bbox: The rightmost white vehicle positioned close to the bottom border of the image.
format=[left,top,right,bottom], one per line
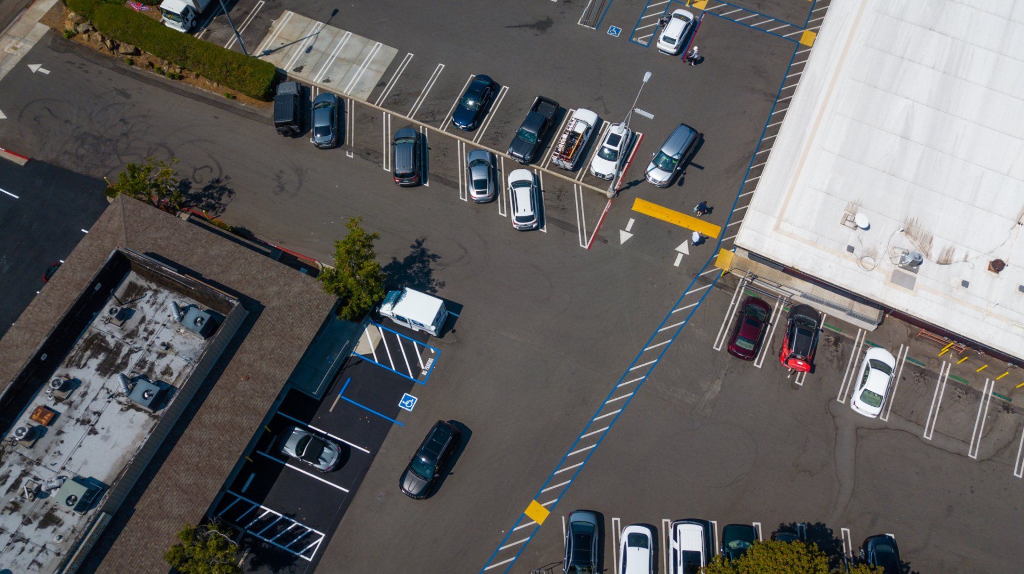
[668,521,709,574]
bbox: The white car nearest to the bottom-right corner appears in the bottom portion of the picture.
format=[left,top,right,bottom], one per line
[847,347,897,423]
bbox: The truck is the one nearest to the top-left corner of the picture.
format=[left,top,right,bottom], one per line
[157,0,212,34]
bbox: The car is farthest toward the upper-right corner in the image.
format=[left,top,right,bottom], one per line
[654,10,693,57]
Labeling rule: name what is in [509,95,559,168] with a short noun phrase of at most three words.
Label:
truck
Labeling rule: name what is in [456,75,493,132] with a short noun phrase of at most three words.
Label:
car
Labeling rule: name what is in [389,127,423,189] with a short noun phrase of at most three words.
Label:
car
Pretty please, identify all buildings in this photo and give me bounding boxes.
[733,0,1024,369]
[0,193,338,574]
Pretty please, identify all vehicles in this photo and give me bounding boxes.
[403,419,459,503]
[40,263,62,286]
[389,127,423,189]
[668,521,709,574]
[562,511,604,574]
[509,95,559,168]
[720,525,756,558]
[859,535,907,574]
[463,151,496,205]
[506,171,539,232]
[654,10,693,57]
[272,82,304,138]
[727,295,772,364]
[456,75,493,132]
[648,123,698,190]
[847,347,897,423]
[157,0,212,34]
[309,94,341,151]
[620,525,662,574]
[778,304,823,373]
[592,122,633,184]
[551,109,597,175]
[377,287,448,337]
[277,426,345,473]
